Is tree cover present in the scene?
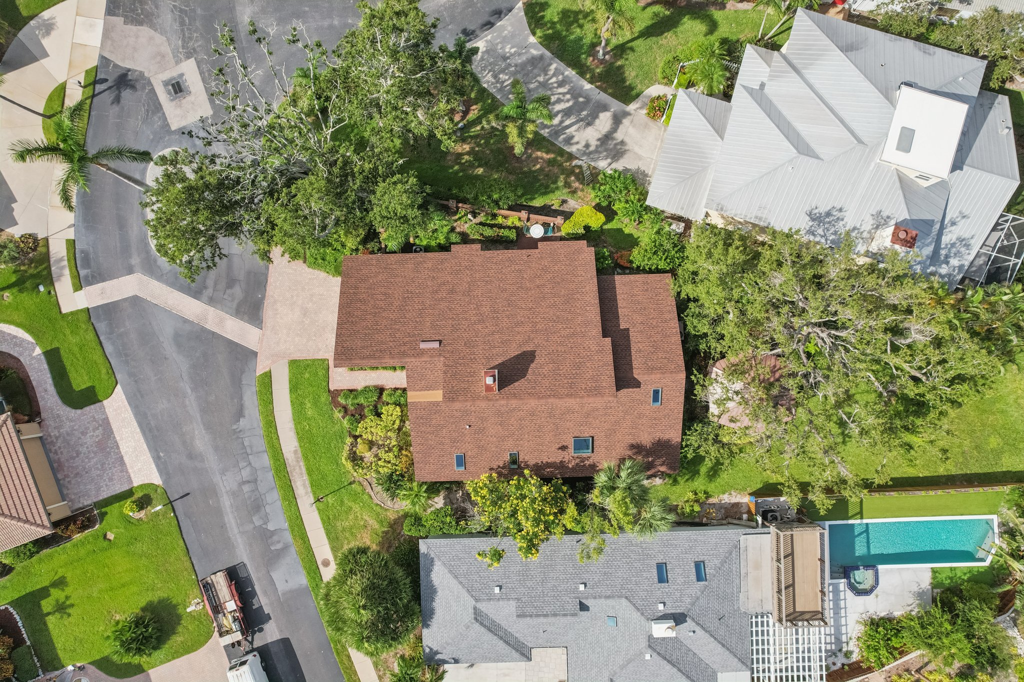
Yes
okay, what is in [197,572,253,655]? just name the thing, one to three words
trailer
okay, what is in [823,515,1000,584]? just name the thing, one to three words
swimming pool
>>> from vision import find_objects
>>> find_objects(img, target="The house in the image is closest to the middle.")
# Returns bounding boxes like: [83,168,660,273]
[334,240,686,481]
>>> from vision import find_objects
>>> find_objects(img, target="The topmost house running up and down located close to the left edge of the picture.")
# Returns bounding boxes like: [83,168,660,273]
[0,408,70,553]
